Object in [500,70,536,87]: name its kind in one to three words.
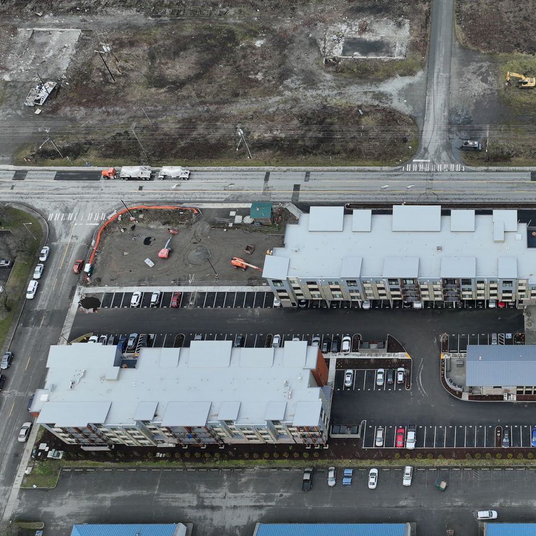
work vehicle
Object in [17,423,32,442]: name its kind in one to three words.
car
